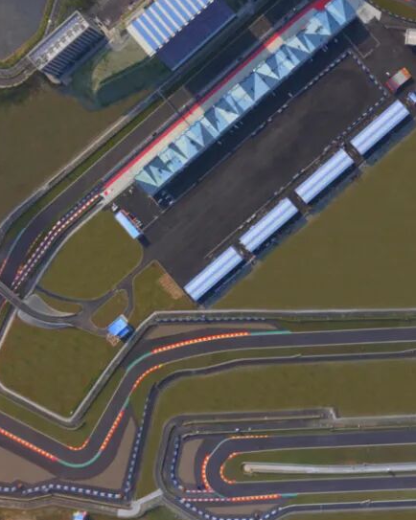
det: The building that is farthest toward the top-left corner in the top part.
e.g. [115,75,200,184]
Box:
[28,10,112,92]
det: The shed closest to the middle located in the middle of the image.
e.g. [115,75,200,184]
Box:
[186,246,242,302]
